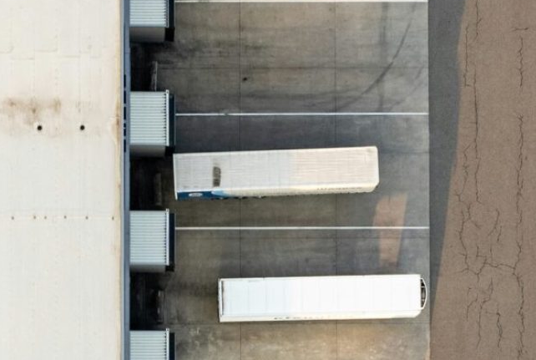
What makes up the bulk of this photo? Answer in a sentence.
The scene is dominated by paved ground.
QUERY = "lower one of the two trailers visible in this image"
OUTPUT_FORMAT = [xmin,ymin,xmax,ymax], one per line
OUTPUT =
[212,274,427,320]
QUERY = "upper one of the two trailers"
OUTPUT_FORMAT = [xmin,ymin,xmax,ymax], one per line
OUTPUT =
[169,145,378,199]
